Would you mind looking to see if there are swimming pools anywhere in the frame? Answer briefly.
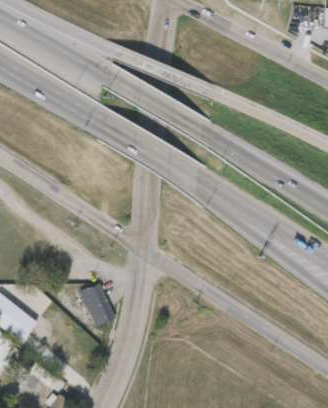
No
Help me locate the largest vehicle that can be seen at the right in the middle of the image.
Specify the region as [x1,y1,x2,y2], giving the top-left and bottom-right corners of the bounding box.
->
[294,238,313,252]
